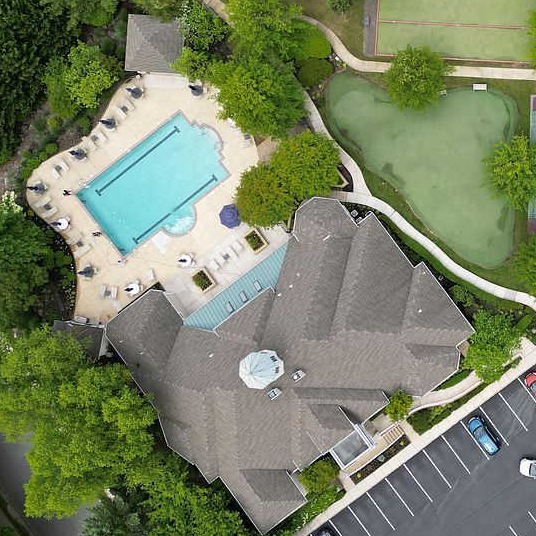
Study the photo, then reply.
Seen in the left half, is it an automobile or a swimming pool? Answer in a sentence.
What appears in the left half is a swimming pool.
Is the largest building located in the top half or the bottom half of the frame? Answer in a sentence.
The largest building is in the bottom half of the image.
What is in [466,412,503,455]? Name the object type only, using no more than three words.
car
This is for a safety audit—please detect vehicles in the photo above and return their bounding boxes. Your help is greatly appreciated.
[523,370,536,397]
[313,527,335,536]
[518,455,536,479]
[466,412,503,455]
